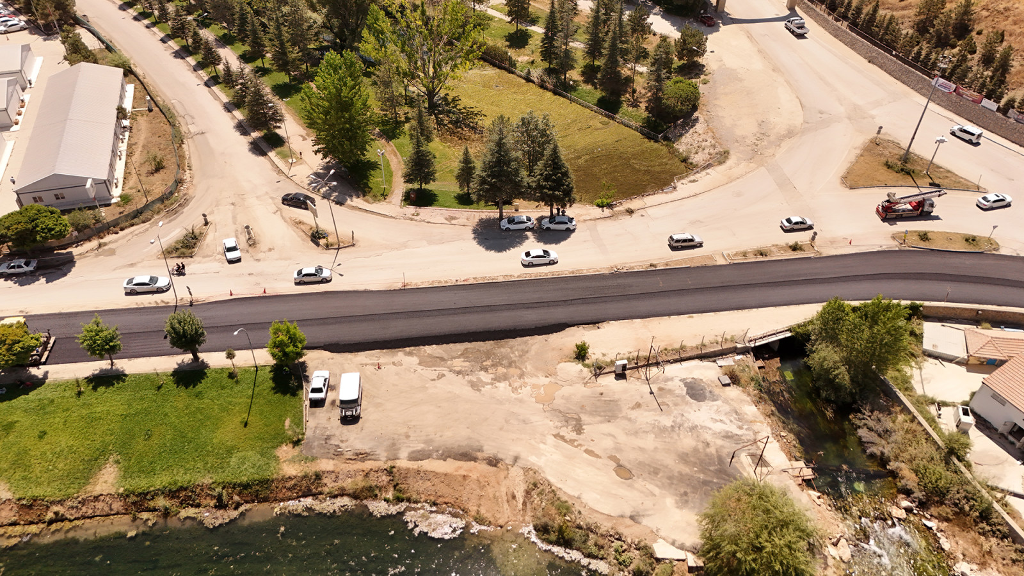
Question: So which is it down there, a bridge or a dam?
bridge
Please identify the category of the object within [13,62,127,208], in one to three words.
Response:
building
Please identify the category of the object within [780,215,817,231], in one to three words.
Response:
car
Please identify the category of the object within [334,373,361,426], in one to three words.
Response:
vehicle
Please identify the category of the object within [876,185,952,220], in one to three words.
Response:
truck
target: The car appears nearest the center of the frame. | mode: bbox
[519,248,560,266]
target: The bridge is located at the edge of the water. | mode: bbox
[738,303,825,357]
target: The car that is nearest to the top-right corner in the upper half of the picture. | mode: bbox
[949,123,988,142]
